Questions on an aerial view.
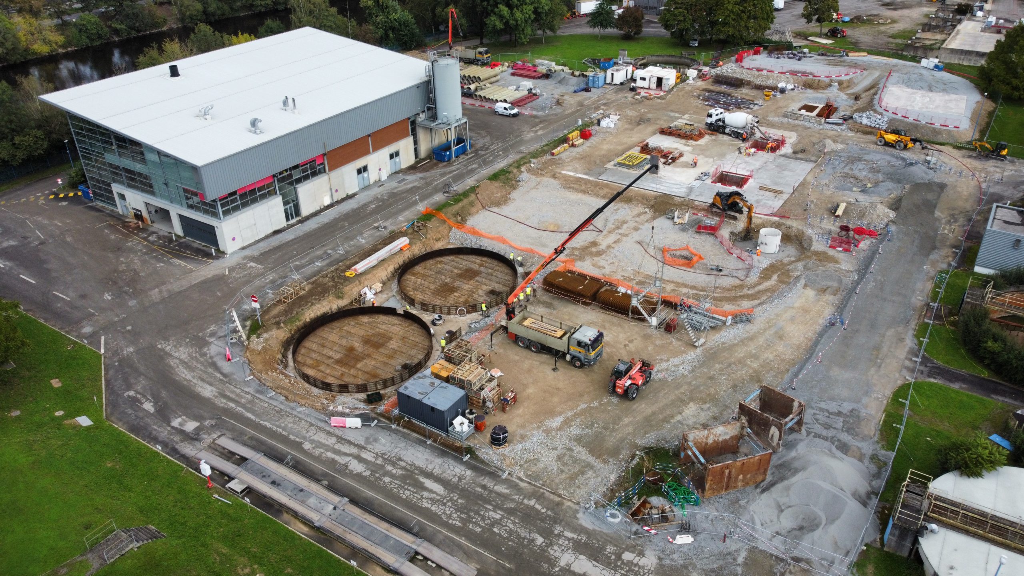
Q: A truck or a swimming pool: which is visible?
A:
truck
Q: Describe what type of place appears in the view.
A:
industrial area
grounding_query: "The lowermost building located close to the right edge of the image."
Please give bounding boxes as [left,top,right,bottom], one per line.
[975,202,1024,281]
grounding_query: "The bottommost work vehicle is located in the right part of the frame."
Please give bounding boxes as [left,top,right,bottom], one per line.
[603,354,655,402]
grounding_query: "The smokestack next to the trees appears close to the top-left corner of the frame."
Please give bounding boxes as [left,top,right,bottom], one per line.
[166,61,181,78]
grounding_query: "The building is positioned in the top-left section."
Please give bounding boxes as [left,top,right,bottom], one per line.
[44,28,435,255]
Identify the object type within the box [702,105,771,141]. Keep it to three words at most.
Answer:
truck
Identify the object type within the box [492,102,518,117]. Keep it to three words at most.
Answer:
vehicle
